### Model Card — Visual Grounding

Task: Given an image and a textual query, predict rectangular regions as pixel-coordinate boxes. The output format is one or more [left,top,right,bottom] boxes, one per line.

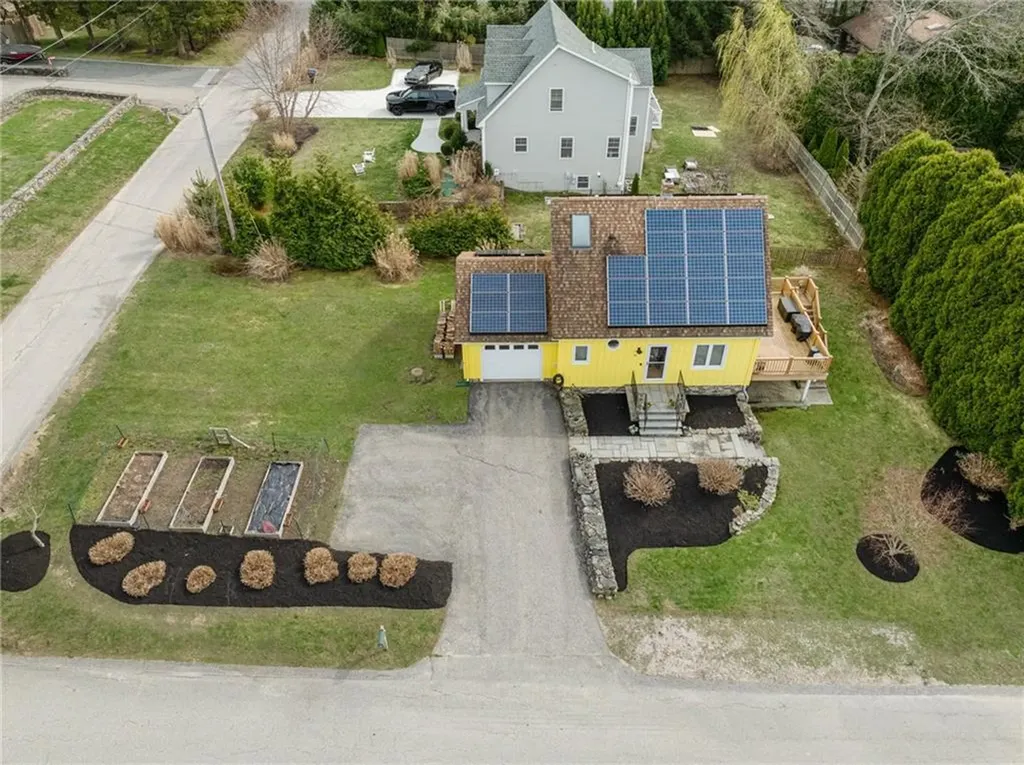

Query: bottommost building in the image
[455,193,778,401]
